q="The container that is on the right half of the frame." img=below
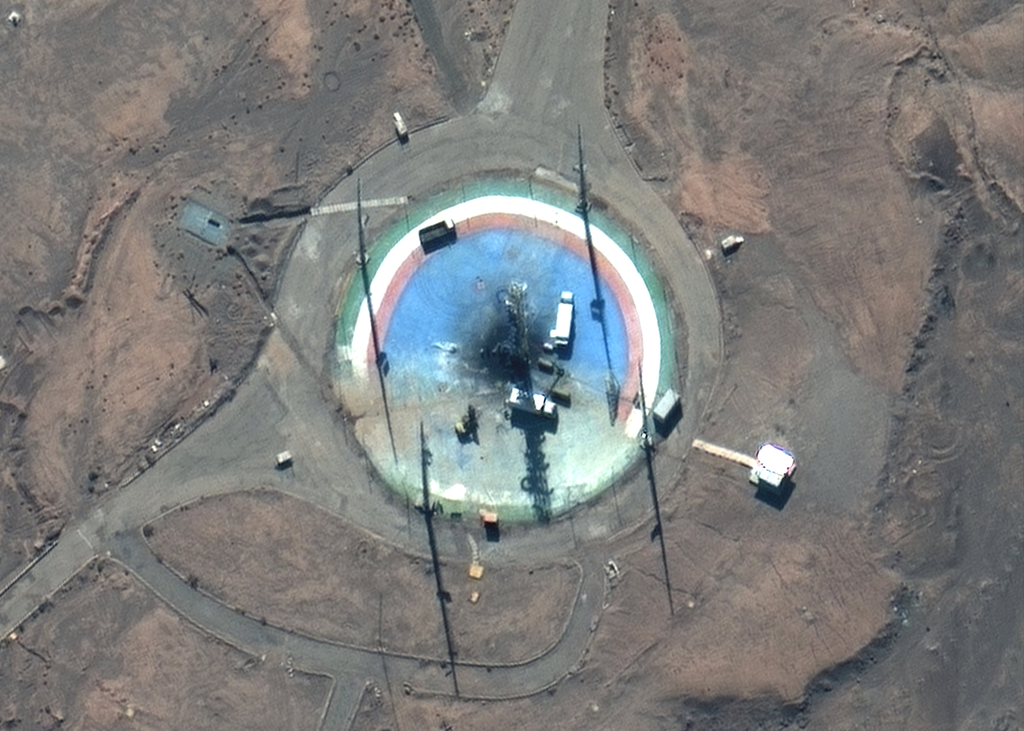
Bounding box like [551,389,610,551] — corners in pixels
[651,391,678,423]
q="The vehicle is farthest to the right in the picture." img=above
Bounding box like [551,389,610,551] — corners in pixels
[721,237,744,254]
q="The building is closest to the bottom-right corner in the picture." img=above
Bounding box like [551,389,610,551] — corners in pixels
[747,442,798,491]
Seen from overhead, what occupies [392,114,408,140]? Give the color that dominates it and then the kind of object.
white vehicle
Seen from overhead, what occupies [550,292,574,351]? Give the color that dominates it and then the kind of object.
white truck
